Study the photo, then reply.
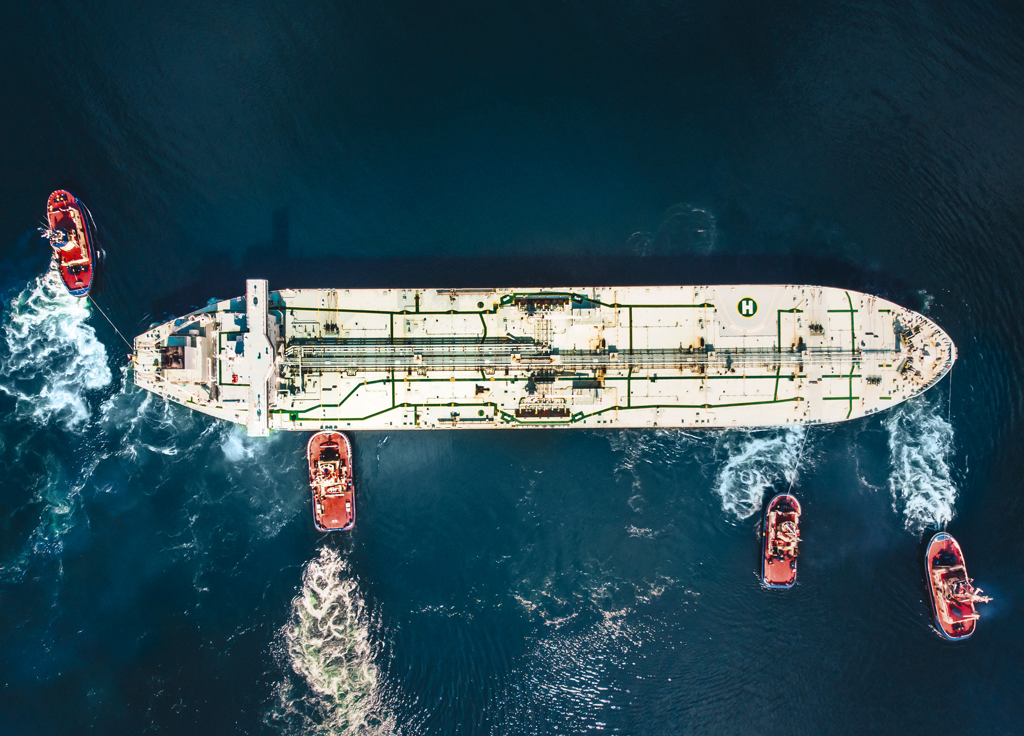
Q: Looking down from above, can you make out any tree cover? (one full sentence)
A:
No, there's no tree cover in this view.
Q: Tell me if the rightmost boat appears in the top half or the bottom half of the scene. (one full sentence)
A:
Seen from above, the rightmost boat lies in the bottom half of the view.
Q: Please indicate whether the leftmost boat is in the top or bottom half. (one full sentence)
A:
You can find the leftmost boat in the top half.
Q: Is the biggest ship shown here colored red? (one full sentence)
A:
No, the biggest ship is white.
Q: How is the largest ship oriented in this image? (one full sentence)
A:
In this picture, the largest ship lies from side to side.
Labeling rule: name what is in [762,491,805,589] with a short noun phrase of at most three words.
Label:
boat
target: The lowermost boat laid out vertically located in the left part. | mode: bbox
[307,430,356,532]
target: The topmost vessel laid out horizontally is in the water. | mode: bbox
[122,279,959,436]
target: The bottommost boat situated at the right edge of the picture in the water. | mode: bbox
[924,530,986,642]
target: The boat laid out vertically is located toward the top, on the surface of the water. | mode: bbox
[31,187,96,299]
